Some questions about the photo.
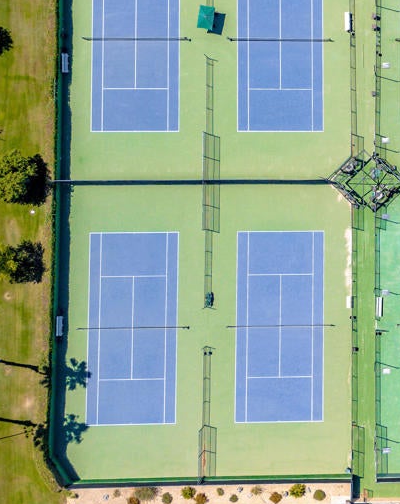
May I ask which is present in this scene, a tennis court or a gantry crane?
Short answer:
tennis court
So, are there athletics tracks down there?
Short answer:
No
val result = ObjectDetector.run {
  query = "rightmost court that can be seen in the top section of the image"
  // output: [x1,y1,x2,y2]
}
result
[237,0,324,132]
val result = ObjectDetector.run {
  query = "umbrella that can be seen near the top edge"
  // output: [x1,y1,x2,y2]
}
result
[197,5,215,30]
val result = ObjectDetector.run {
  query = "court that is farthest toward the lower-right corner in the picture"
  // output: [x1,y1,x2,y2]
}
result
[235,231,324,423]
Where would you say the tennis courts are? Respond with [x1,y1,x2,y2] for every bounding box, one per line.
[237,0,324,132]
[235,231,324,423]
[86,232,179,426]
[91,0,180,132]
